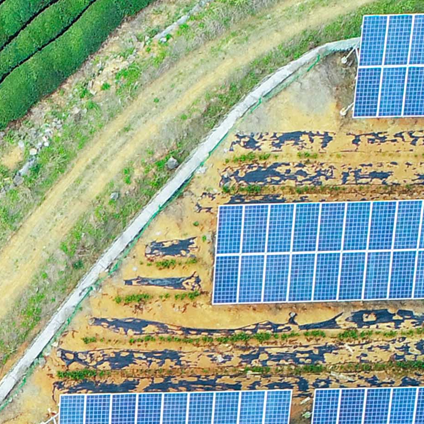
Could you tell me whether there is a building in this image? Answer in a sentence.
No, there appears to be no building in this shot.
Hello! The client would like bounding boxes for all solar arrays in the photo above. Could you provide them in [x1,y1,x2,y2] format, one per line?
[56,390,292,424]
[339,15,424,117]
[210,201,424,304]
[303,387,424,424]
